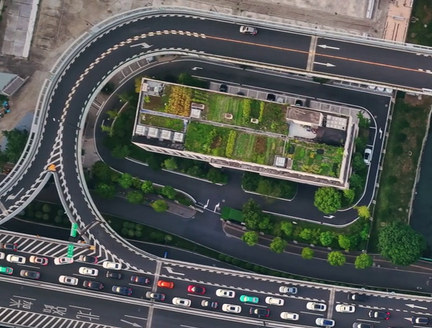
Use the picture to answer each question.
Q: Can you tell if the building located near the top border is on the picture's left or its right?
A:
left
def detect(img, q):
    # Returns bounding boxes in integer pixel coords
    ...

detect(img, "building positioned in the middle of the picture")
[130,77,359,189]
